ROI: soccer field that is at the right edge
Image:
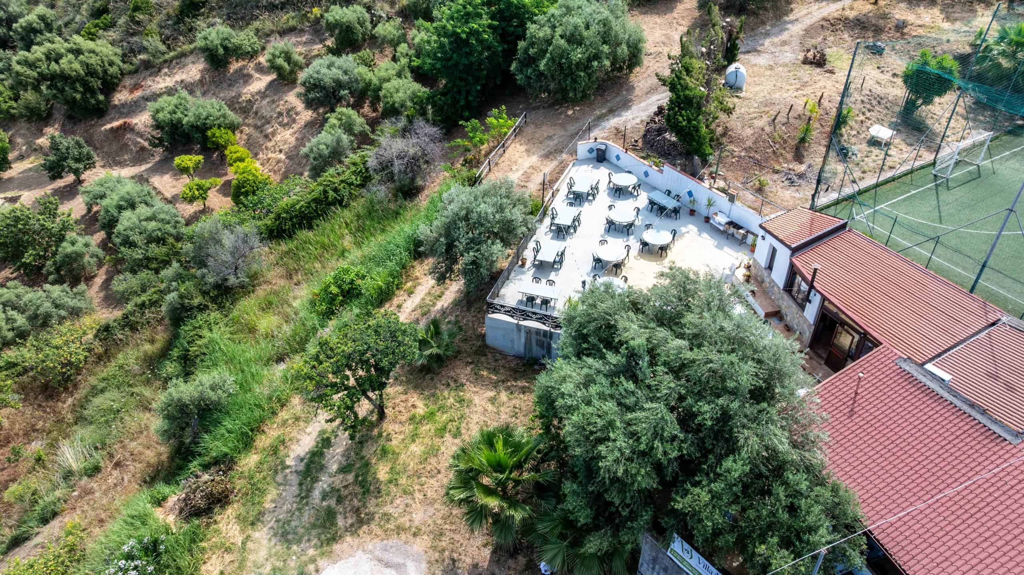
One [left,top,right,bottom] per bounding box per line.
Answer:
[817,131,1024,321]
